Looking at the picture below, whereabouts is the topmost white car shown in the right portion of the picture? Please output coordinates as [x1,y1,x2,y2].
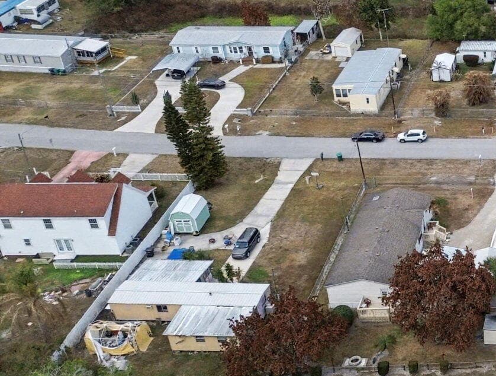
[395,129,427,145]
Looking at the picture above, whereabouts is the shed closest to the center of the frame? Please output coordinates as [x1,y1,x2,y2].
[166,189,214,235]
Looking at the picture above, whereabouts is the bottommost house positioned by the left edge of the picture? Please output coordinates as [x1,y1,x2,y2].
[0,159,165,262]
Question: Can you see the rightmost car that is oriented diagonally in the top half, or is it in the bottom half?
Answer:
bottom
